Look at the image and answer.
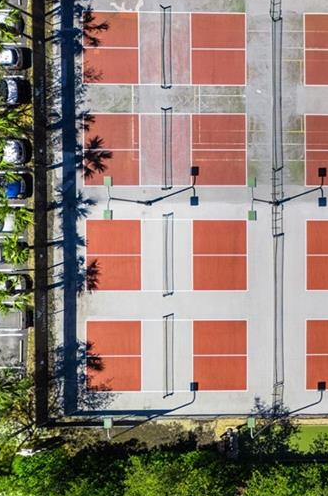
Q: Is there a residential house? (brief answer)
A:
No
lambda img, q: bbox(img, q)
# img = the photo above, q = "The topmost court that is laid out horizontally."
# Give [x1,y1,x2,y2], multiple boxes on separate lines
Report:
[82,12,246,85]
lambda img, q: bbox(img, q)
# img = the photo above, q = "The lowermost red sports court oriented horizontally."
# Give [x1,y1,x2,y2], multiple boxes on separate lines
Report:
[86,320,247,392]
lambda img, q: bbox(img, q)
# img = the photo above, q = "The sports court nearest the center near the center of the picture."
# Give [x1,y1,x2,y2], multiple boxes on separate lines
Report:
[85,220,247,290]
